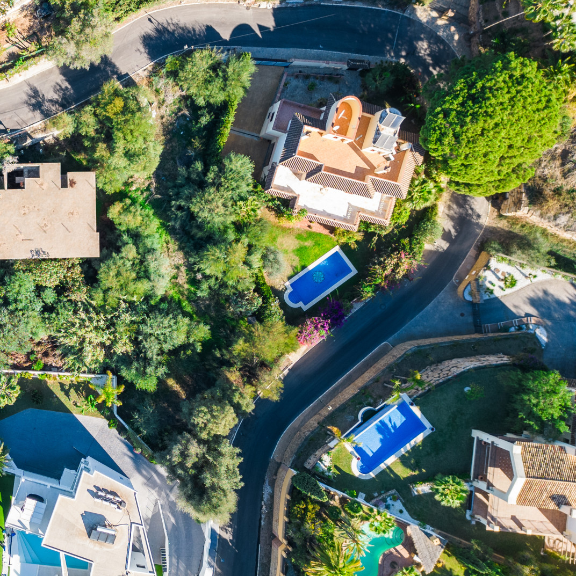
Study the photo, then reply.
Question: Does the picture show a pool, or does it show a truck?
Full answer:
Visible in the photo is a pool.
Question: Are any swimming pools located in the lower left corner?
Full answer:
Yes, you'll find a swimming pool in the lower left corner.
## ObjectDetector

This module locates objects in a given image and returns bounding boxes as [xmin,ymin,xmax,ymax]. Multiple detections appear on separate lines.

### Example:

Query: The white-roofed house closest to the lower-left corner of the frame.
[6,456,159,576]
